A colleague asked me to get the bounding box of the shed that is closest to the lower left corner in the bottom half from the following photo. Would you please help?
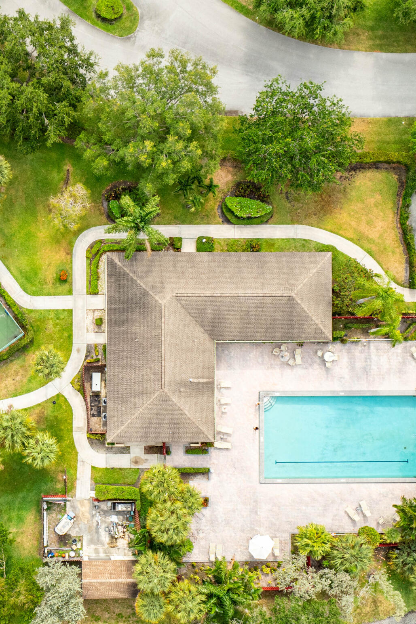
[82,558,140,599]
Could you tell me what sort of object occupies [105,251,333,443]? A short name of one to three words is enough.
building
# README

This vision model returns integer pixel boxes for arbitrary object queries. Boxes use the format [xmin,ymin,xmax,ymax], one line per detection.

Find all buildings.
[82,558,140,599]
[105,251,333,443]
